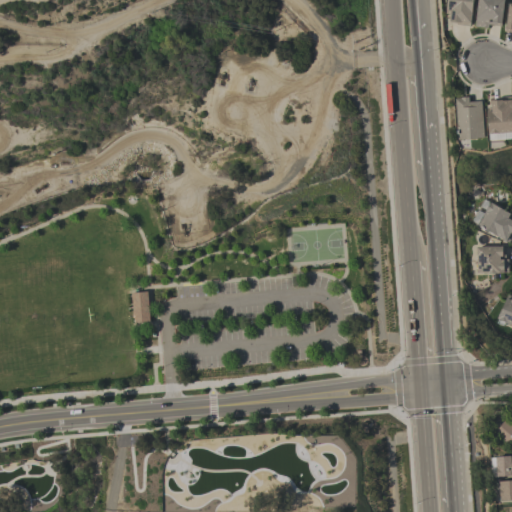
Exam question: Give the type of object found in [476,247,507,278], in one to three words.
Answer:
house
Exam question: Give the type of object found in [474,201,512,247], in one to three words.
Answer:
house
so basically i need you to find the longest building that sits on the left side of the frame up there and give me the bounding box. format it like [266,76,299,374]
[132,292,150,324]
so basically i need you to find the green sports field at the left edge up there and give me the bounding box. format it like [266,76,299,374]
[0,208,146,394]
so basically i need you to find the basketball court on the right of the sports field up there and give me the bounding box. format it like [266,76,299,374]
[288,224,348,266]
